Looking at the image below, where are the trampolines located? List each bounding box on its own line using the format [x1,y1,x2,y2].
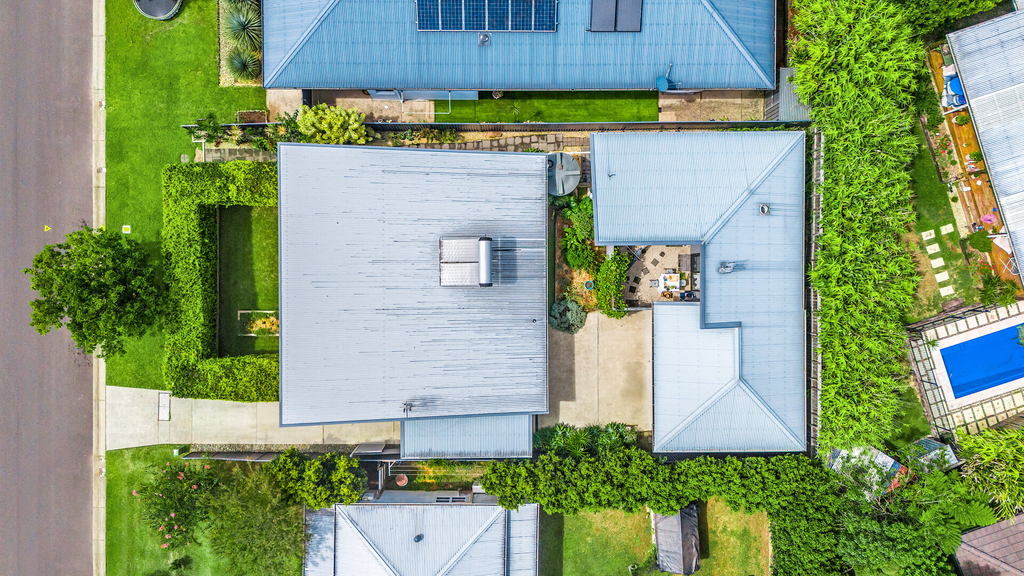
[135,0,185,24]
